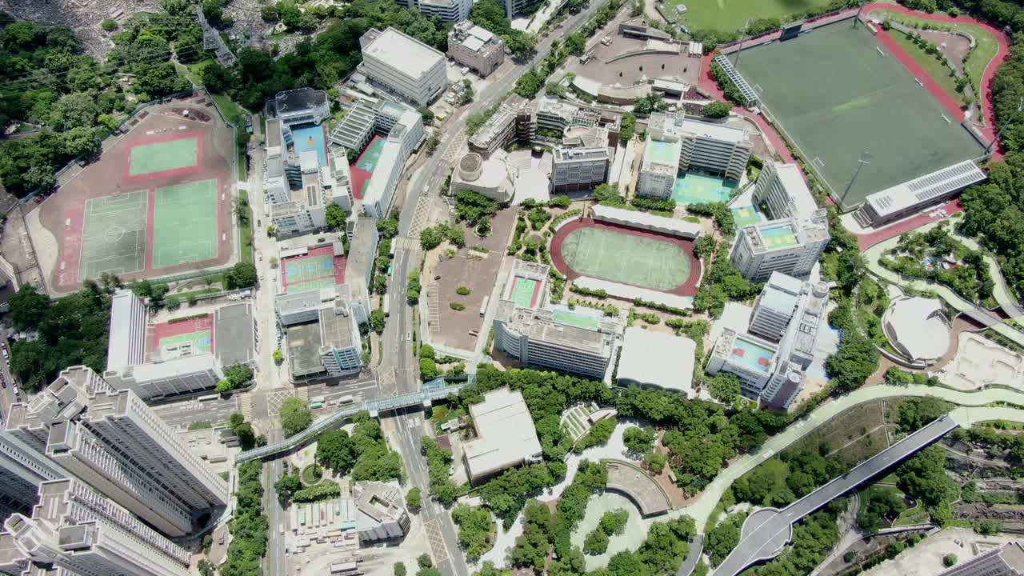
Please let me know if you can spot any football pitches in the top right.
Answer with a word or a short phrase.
Yes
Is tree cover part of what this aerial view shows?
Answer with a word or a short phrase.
Yes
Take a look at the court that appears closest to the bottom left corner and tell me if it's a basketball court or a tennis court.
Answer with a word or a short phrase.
basketball court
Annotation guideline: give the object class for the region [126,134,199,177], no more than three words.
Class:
basketball court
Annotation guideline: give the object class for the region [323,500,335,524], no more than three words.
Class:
vehicle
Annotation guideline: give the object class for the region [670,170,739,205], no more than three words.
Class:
basketball court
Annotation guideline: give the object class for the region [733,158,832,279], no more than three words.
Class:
building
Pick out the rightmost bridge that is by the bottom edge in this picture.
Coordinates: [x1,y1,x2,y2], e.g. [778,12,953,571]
[713,410,969,576]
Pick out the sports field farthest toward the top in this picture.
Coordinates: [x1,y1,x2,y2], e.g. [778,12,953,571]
[669,0,844,43]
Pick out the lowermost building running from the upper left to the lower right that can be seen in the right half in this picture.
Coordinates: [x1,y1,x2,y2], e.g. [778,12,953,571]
[601,456,672,515]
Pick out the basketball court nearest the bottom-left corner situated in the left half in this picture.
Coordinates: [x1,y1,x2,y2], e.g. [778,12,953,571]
[153,313,214,362]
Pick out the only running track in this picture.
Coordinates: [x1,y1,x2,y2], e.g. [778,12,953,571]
[551,217,702,298]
